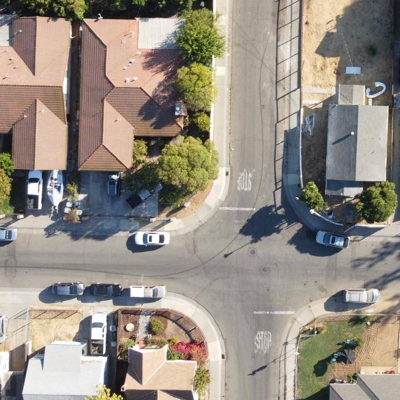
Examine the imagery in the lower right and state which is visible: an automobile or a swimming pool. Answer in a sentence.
It is an automobile that can be seen in the lower right.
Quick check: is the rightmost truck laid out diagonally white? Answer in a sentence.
No, the rightmost truck laid out diagonally is actually black.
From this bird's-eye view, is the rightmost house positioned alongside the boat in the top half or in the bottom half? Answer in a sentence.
The rightmost house positioned alongside the boat is in the top half of the image.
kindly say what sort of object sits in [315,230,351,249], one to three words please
car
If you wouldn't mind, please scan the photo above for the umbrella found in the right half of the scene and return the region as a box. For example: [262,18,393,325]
[341,348,356,363]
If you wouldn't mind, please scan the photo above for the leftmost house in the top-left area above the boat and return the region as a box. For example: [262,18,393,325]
[0,15,75,170]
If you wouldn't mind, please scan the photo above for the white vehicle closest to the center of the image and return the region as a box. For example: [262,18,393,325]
[135,230,171,247]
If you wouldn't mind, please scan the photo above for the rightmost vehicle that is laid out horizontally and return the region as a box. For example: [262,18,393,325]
[342,288,380,305]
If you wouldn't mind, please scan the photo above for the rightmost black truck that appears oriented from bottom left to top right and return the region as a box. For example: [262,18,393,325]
[124,179,161,213]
